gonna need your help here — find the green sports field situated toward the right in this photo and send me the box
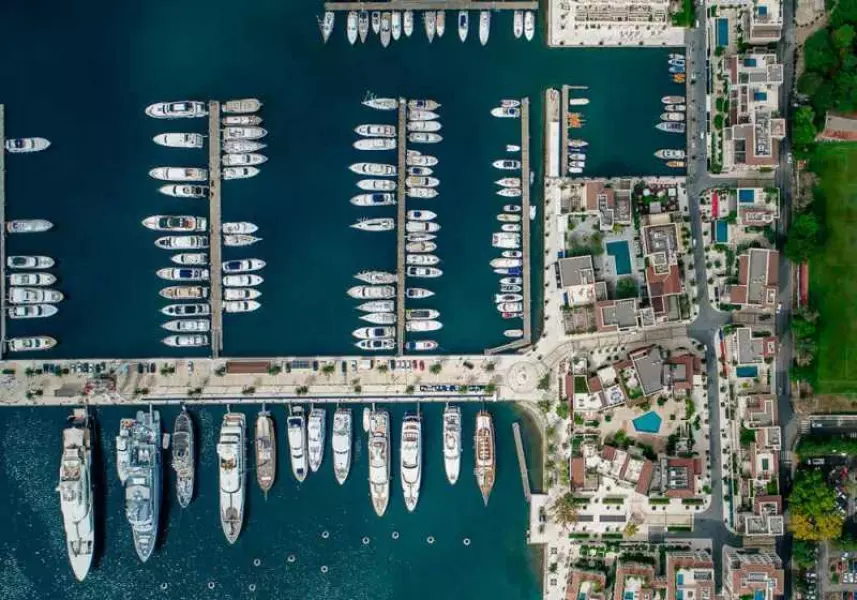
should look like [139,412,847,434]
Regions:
[812,143,857,393]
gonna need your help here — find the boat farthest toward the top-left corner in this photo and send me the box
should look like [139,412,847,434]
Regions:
[8,136,49,151]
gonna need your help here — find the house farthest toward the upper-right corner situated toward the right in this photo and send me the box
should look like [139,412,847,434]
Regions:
[739,0,784,44]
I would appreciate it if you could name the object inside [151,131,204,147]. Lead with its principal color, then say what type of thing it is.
white boat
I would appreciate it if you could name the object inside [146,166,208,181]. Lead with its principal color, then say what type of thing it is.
white boat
